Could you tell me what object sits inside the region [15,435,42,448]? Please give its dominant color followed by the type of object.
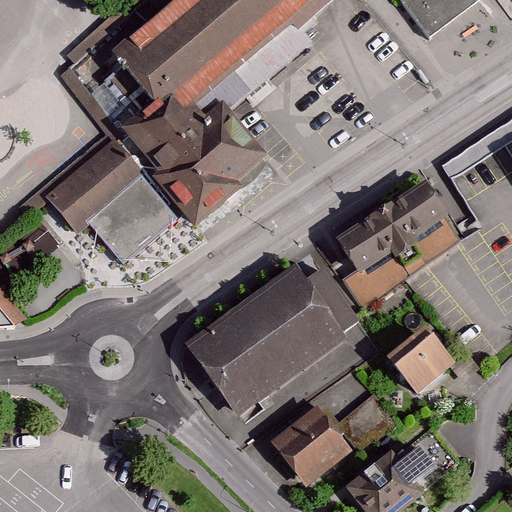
white vehicle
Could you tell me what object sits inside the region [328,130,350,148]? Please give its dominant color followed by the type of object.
white car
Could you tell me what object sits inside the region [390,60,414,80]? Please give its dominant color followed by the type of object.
white car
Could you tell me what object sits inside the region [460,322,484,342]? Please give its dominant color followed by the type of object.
white vehicle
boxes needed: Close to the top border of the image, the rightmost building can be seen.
[400,0,480,41]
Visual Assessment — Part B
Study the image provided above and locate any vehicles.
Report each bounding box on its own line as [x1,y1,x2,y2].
[155,495,171,512]
[366,32,390,51]
[15,435,42,448]
[248,118,272,138]
[353,110,376,128]
[318,73,341,92]
[390,60,414,80]
[144,486,162,512]
[376,40,399,60]
[0,428,11,452]
[466,170,480,186]
[106,450,124,474]
[328,130,350,148]
[60,464,72,490]
[460,502,479,512]
[460,322,484,342]
[474,160,498,184]
[294,90,320,112]
[240,109,262,128]
[490,234,512,253]
[309,111,332,130]
[116,460,133,484]
[136,478,152,502]
[307,65,330,84]
[124,472,140,495]
[330,92,356,113]
[340,100,366,121]
[347,11,373,32]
